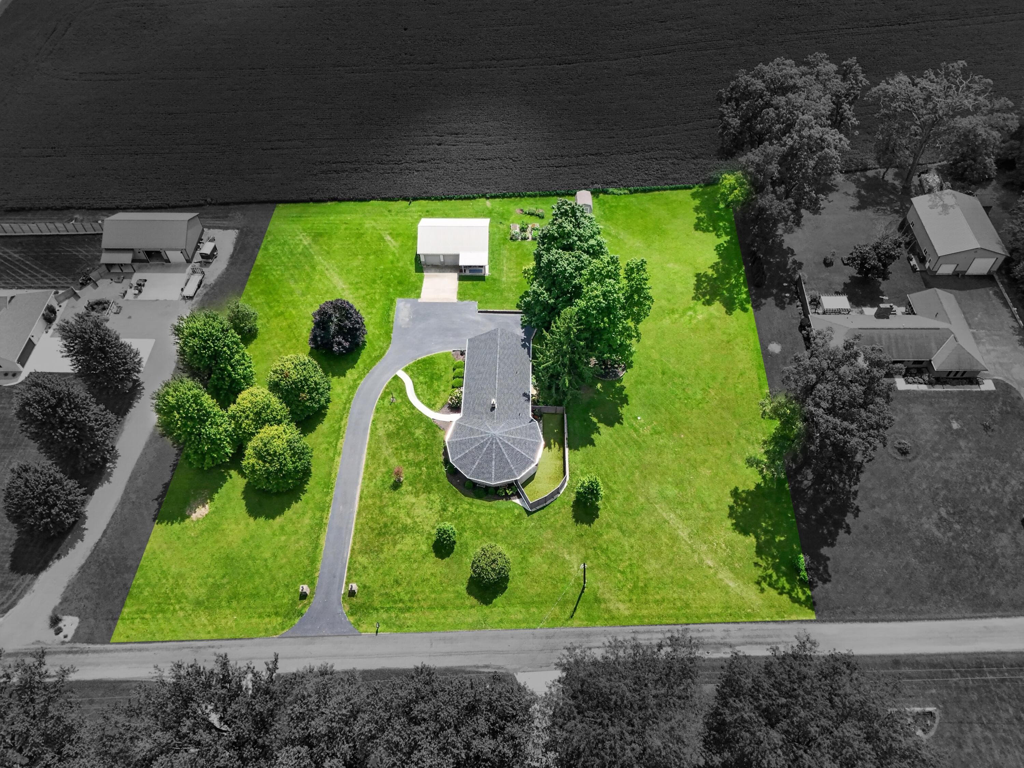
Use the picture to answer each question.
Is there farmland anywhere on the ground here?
Yes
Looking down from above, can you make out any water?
No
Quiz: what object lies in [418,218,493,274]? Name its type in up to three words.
barn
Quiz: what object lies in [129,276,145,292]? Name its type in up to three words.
work vehicle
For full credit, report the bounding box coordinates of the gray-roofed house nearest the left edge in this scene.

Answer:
[0,290,58,371]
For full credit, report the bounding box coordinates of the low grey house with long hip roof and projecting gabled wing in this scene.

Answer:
[808,288,988,378]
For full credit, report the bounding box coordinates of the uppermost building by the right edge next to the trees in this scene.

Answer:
[902,188,1009,275]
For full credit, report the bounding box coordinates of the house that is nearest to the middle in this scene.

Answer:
[445,328,545,487]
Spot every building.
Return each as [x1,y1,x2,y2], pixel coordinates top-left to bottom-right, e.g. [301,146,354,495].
[902,188,1009,275]
[575,190,592,216]
[100,213,205,272]
[418,218,493,274]
[0,290,58,371]
[445,328,545,487]
[808,288,988,378]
